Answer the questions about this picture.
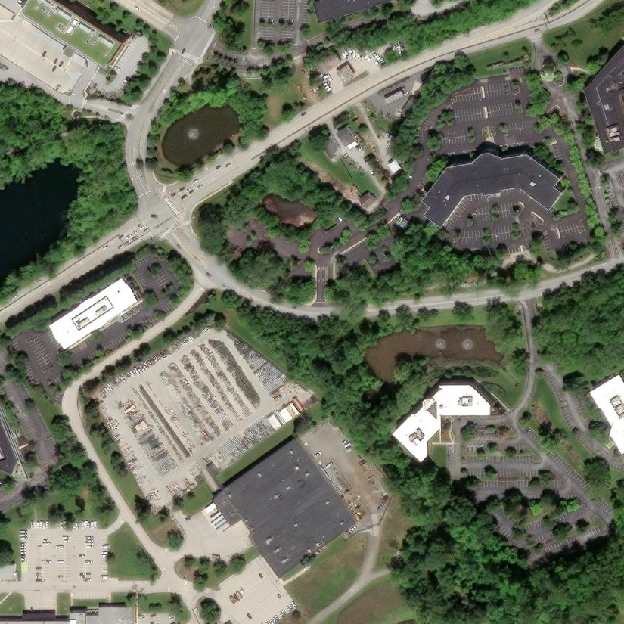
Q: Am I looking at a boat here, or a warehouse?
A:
warehouse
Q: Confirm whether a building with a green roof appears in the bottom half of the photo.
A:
No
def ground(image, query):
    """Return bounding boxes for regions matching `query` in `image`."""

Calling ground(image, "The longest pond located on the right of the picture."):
[363,326,500,383]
